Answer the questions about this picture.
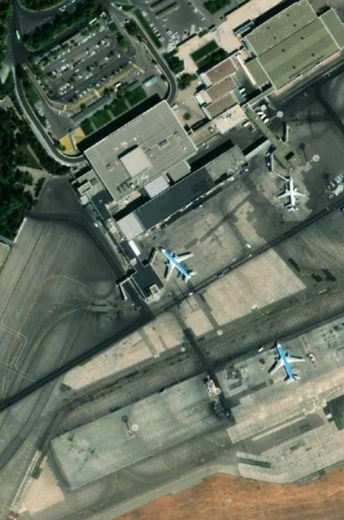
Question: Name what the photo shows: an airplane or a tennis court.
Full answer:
Of the two, only an airplane appears.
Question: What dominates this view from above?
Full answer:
What you mostly see from above here is paved ground.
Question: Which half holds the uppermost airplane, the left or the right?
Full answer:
The uppermost airplane appears in the right half of the scene.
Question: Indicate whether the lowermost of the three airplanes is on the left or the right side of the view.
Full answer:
It is on the right.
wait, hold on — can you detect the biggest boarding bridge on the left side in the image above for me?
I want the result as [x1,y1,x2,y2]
[118,275,133,301]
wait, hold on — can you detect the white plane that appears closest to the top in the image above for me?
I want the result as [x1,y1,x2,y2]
[278,177,305,211]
